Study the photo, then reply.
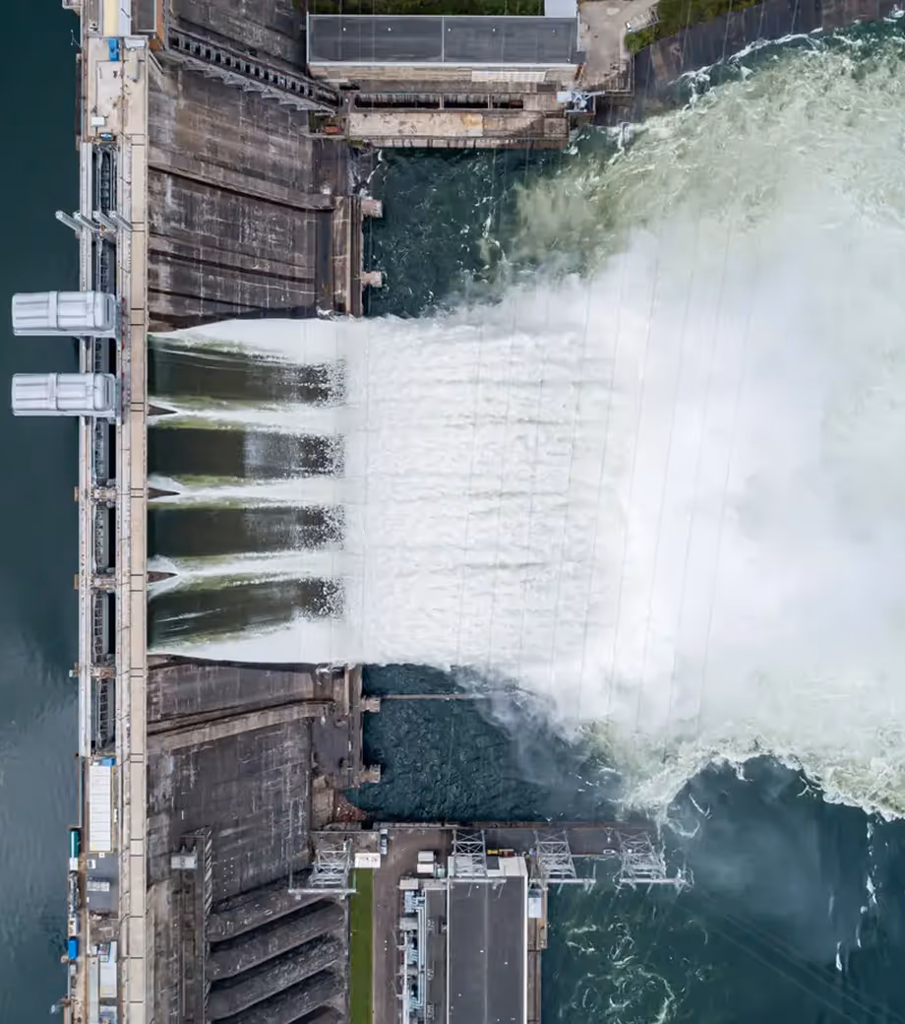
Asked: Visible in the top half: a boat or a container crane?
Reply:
container crane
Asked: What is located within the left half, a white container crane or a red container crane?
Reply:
white container crane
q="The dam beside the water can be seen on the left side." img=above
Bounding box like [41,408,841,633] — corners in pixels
[61,0,383,1024]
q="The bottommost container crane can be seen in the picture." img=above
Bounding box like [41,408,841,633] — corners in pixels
[11,370,127,428]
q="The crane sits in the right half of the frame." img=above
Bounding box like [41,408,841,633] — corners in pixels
[557,91,604,125]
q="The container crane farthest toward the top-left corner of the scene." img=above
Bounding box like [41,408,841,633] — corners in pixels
[11,291,127,351]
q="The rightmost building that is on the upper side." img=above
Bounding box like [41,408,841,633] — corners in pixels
[309,0,579,84]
